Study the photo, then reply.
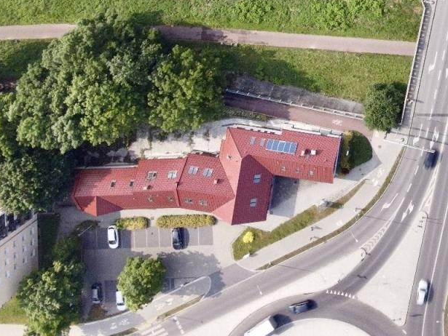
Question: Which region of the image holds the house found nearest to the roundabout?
center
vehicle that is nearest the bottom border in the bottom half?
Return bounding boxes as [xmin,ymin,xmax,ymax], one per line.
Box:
[241,313,274,336]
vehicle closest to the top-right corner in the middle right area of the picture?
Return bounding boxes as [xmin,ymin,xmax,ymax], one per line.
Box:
[424,149,437,171]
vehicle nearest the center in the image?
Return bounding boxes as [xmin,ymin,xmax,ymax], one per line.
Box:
[173,226,185,250]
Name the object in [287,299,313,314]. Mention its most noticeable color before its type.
gray car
